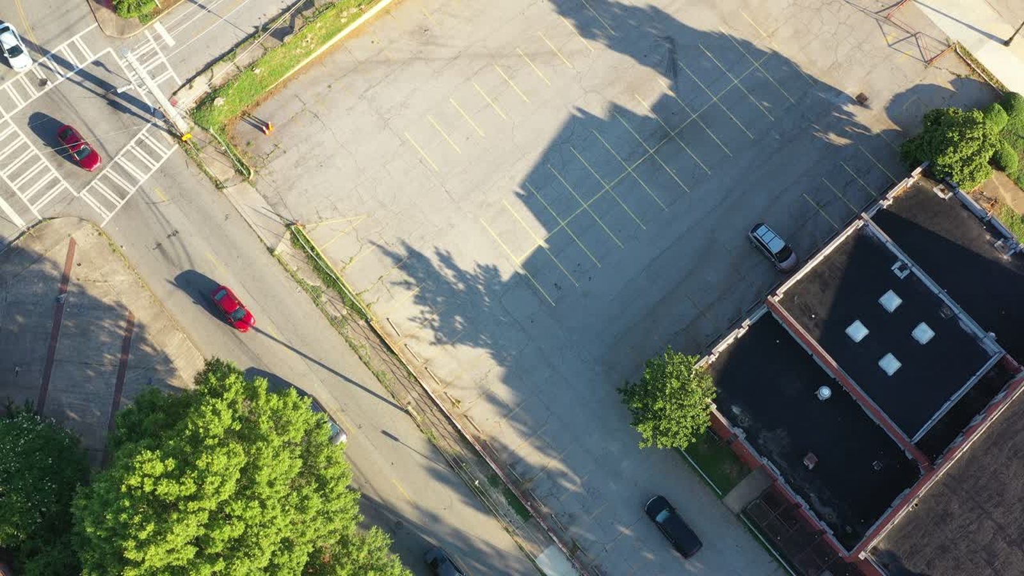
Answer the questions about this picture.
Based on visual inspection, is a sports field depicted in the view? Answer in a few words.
No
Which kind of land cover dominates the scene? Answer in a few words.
paved ground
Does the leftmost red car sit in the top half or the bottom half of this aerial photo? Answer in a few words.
top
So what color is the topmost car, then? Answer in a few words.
white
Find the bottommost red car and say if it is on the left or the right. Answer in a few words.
left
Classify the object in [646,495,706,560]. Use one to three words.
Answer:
car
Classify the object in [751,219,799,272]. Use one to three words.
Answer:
car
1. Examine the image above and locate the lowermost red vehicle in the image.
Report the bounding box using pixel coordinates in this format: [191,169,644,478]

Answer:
[208,281,255,333]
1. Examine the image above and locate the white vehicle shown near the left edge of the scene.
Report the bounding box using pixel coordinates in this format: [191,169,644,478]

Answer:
[0,17,28,67]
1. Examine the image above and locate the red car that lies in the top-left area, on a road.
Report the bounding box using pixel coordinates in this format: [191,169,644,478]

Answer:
[53,121,99,169]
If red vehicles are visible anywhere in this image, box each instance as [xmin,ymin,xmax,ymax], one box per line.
[53,121,99,169]
[208,281,255,333]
